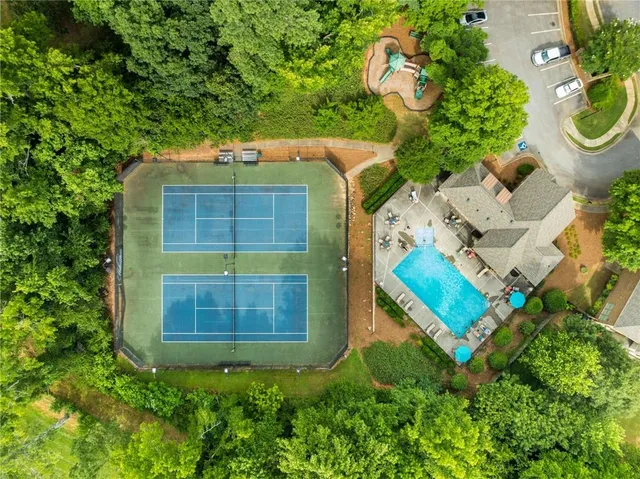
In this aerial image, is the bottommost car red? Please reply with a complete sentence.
No, the color of the bottommost car is white.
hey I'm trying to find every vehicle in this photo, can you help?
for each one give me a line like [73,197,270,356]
[553,78,584,99]
[458,11,486,26]
[530,44,570,66]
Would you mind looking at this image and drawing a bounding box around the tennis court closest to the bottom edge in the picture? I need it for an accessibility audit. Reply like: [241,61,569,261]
[122,263,346,366]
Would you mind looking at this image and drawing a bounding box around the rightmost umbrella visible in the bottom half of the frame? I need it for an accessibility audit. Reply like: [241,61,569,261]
[509,291,525,307]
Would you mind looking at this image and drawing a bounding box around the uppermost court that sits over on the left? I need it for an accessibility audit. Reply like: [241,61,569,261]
[122,163,346,263]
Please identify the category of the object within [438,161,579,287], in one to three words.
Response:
building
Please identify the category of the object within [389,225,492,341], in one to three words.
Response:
swimming pool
